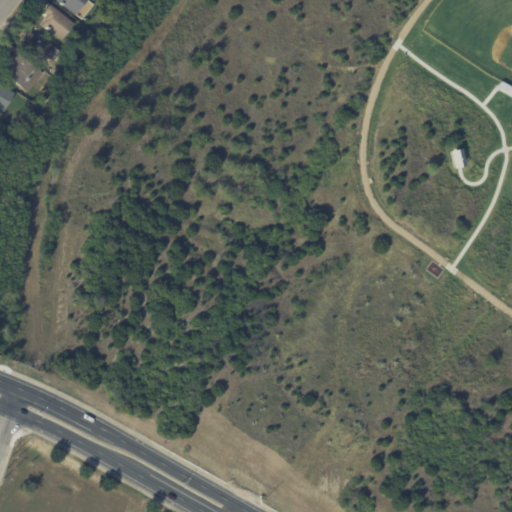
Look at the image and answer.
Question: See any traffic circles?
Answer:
No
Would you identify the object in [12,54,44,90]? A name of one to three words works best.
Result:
house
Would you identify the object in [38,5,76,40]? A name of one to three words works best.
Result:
house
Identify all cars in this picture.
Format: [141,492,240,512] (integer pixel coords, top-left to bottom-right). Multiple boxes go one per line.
[168,492,178,499]
[84,414,94,422]
[10,424,20,433]
[20,408,29,414]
